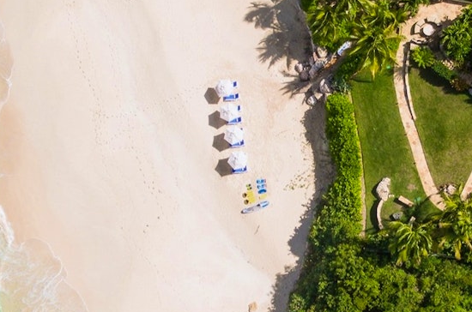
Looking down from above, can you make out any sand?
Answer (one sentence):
Yes, some sand is visible.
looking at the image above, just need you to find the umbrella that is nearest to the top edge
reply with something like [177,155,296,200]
[216,80,237,98]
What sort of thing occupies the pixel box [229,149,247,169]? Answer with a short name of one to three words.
umbrella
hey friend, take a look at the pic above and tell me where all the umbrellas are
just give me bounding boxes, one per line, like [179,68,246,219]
[229,149,247,169]
[219,102,238,121]
[216,80,237,98]
[224,126,243,145]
